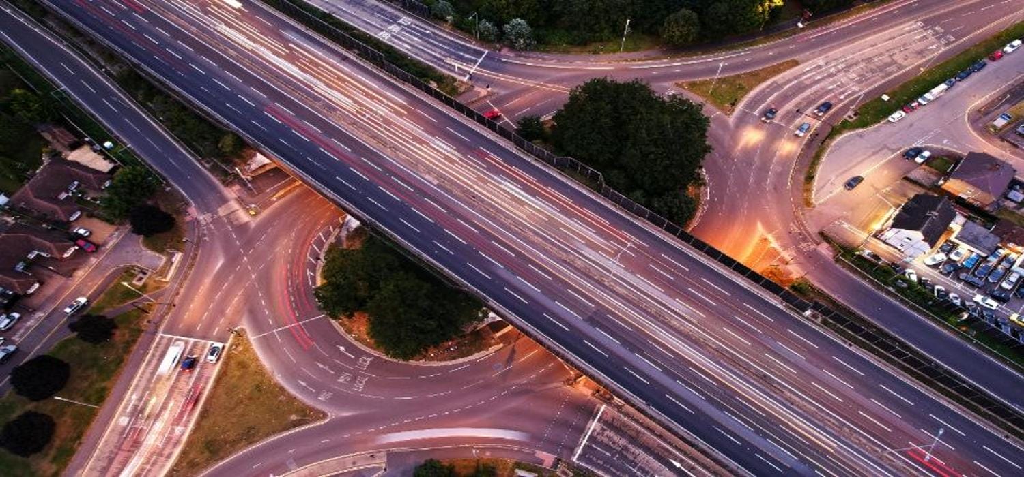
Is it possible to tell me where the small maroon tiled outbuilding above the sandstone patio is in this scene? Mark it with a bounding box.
[38,125,85,157]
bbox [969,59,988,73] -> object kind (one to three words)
car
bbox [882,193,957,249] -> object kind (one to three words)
house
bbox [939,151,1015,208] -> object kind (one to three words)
house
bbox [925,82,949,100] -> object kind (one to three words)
vehicle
